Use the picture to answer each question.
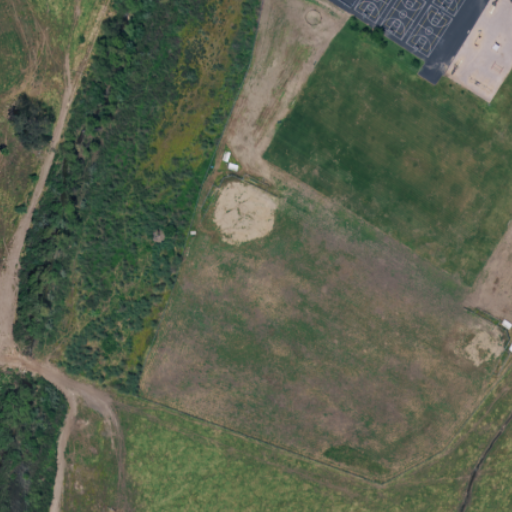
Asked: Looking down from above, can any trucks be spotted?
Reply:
No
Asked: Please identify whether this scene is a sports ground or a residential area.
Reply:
sports ground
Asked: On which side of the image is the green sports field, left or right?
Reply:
right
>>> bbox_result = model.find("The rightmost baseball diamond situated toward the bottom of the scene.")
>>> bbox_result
[273,236,509,482]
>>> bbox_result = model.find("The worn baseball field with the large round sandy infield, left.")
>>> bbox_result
[141,174,388,442]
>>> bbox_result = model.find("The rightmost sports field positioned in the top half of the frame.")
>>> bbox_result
[266,15,512,287]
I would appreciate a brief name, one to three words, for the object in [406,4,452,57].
basketball court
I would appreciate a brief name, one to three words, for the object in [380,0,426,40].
basketball court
